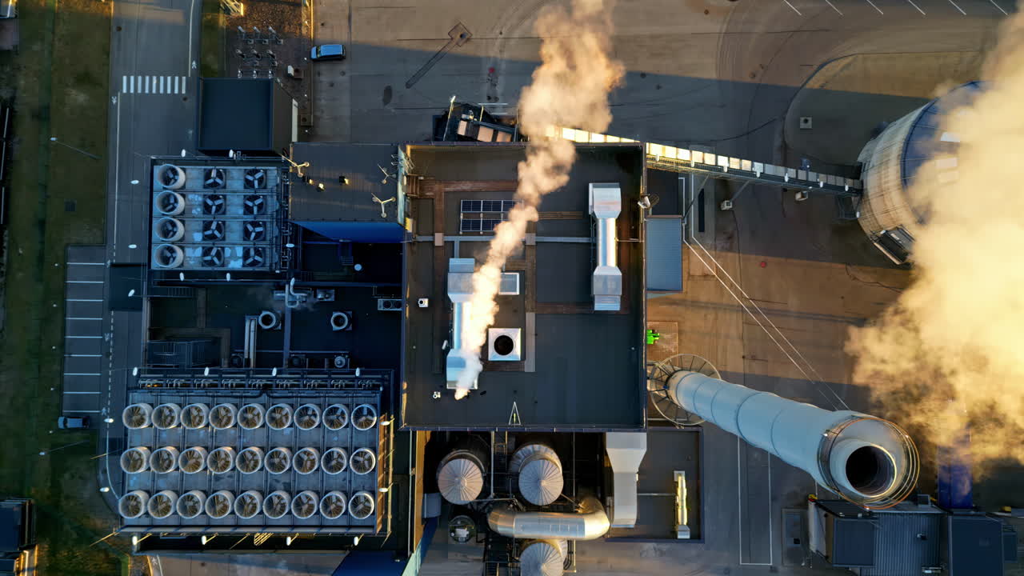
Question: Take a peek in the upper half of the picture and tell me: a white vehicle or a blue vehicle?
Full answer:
It is a blue vehicle that can be seen in the upper half of the picture.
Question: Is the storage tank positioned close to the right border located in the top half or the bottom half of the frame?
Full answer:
The storage tank positioned close to the right border is in the top half of the image.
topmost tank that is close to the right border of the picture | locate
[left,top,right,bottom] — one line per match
[858,78,1024,255]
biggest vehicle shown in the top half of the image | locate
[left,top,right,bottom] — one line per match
[313,44,347,62]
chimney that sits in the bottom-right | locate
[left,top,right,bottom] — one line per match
[668,369,911,511]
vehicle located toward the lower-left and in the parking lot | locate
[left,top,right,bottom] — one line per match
[60,414,92,430]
